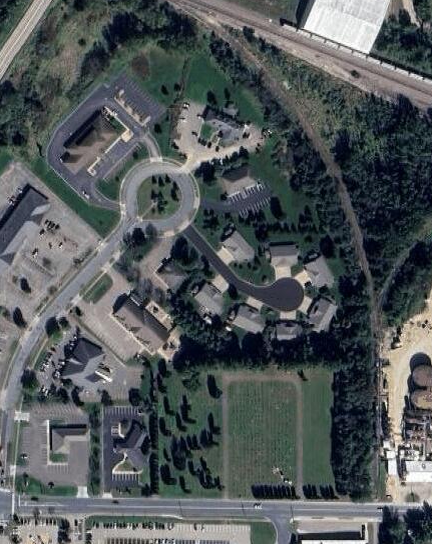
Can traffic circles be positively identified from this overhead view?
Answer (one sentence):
Yes, this view includes a traffic circle.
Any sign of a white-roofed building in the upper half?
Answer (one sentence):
Yes, a white-roofed building can be seen in the upper half.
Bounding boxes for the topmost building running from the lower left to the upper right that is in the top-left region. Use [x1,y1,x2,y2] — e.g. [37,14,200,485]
[58,109,123,173]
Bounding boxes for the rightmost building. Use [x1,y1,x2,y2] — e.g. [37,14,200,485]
[404,461,432,482]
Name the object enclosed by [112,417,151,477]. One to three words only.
building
